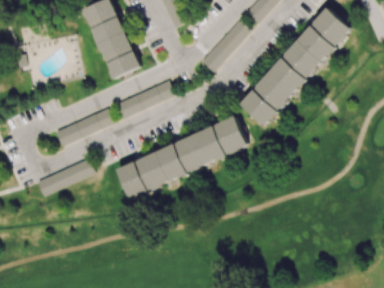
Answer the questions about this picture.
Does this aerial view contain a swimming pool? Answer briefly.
Yes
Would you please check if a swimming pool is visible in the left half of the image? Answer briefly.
Yes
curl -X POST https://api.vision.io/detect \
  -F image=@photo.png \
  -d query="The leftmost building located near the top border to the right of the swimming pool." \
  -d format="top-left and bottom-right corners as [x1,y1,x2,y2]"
[83,0,141,82]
